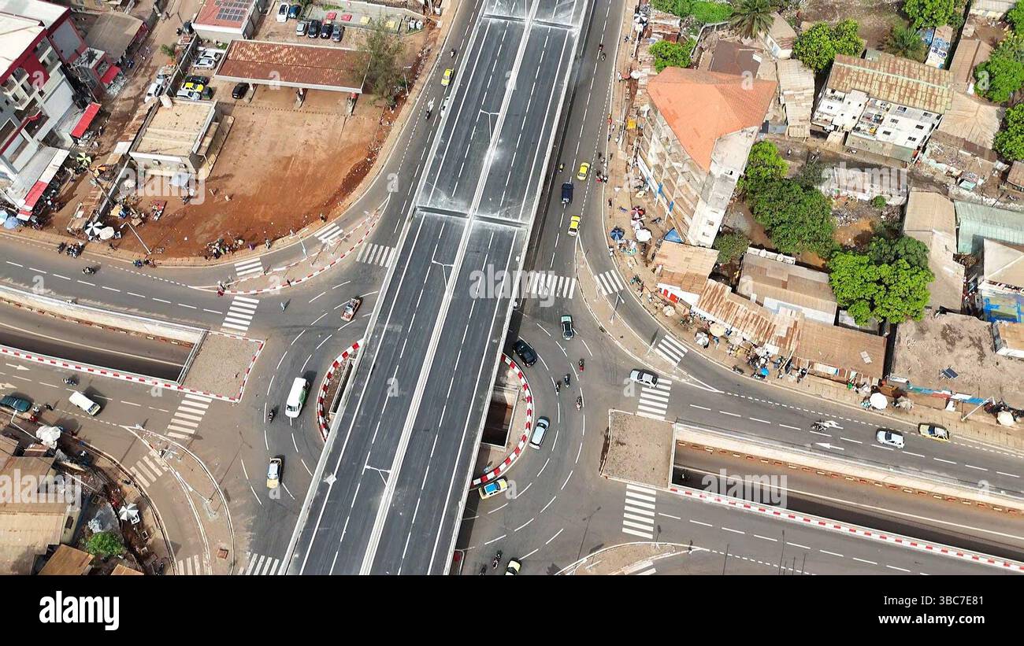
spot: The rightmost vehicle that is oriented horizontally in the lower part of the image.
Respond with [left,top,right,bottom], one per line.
[918,424,948,440]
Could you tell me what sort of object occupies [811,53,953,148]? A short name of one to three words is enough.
building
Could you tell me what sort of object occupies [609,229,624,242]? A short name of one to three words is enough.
umbrella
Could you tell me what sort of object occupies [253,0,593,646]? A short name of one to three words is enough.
bridge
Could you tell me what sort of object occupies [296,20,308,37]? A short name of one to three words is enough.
vehicle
